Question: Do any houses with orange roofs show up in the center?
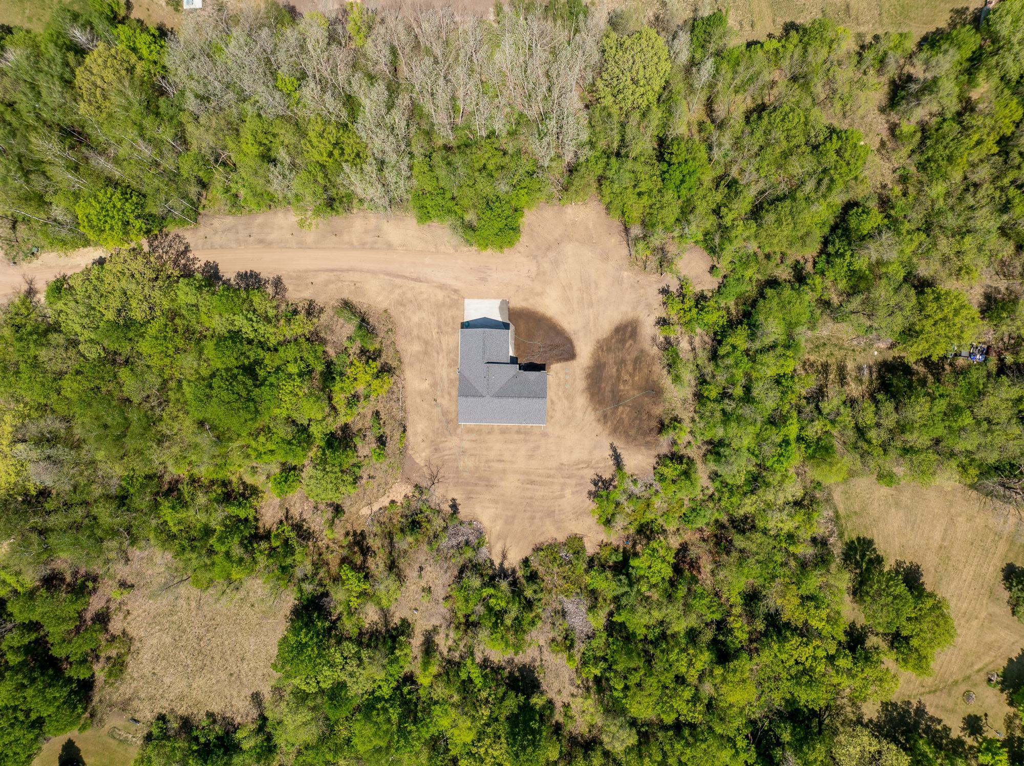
No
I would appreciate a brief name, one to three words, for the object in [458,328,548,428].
house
